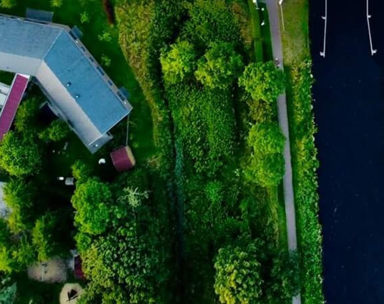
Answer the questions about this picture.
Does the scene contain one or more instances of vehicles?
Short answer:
No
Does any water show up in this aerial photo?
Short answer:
Yes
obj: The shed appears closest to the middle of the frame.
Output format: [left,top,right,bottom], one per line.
[110,141,137,174]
